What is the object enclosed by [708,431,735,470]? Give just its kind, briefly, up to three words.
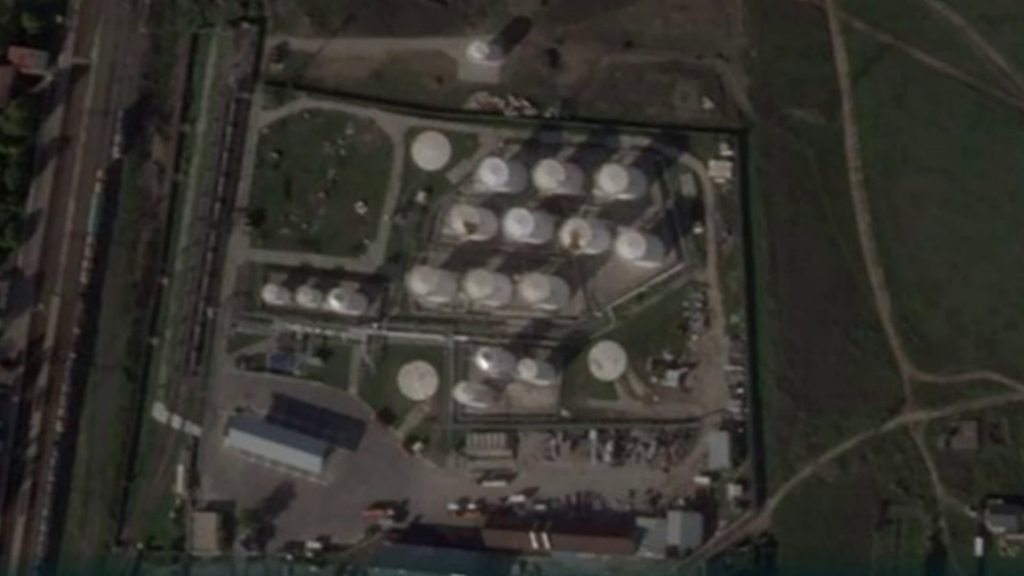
shed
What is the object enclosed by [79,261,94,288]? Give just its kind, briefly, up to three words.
rail car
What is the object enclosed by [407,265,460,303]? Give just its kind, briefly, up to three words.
storage tank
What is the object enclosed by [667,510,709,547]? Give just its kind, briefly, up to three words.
building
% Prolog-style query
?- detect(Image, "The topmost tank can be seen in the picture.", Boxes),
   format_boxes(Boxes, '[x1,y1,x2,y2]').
[466,40,505,69]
